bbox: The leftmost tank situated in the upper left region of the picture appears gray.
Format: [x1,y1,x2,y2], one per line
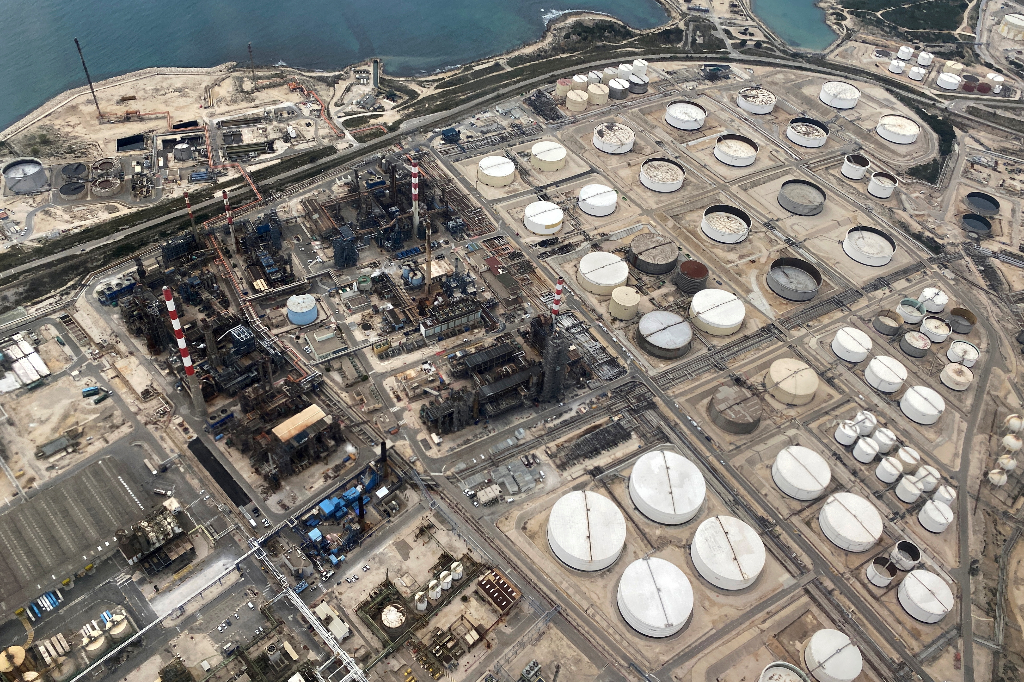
[1,157,53,194]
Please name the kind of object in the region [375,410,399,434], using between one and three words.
building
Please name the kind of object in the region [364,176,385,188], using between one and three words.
cooling tower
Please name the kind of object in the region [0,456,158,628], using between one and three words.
warehouse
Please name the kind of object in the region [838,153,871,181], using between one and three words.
storage tank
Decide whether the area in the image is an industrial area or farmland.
industrial area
